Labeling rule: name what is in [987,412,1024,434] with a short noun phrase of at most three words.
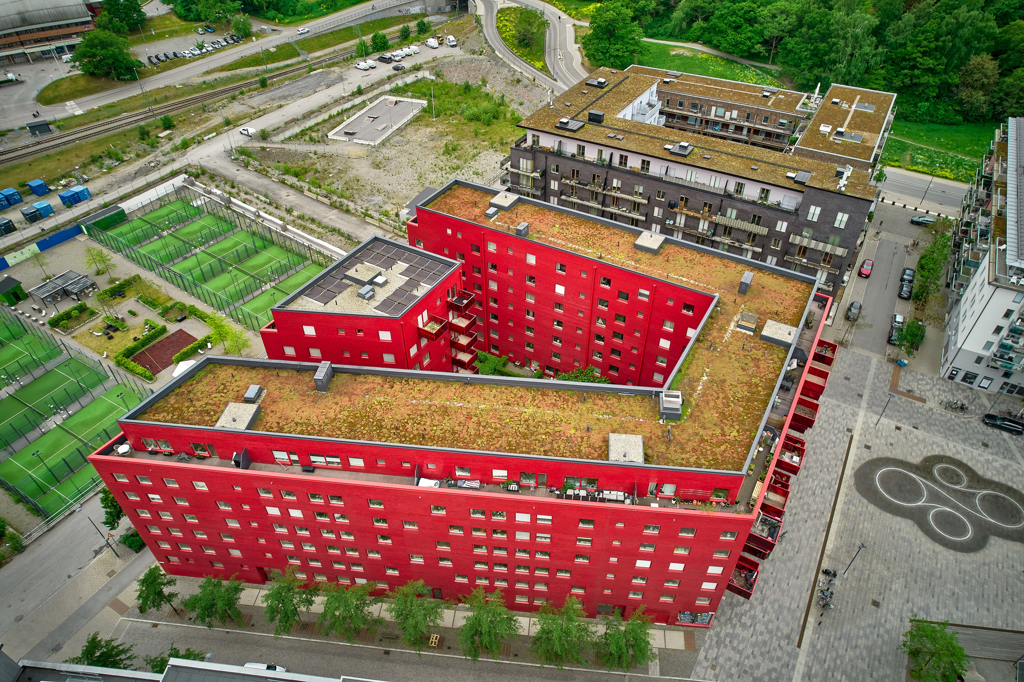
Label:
car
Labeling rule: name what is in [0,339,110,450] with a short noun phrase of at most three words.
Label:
sports court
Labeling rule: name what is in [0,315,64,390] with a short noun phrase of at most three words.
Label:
sports court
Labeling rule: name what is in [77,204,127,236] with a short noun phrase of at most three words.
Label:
shed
